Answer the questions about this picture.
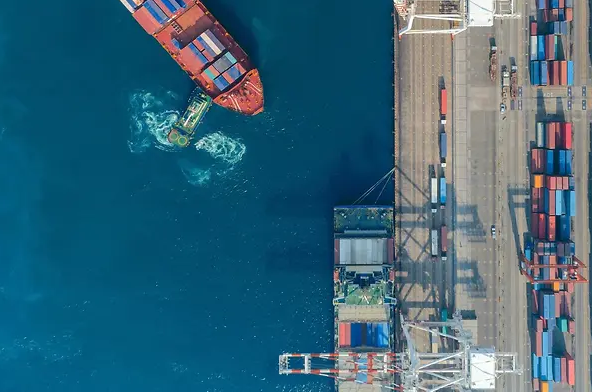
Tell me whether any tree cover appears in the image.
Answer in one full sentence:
No, there's no tree cover in this view.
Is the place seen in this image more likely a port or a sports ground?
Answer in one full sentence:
It's a port.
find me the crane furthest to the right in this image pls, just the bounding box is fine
[515,248,587,282]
